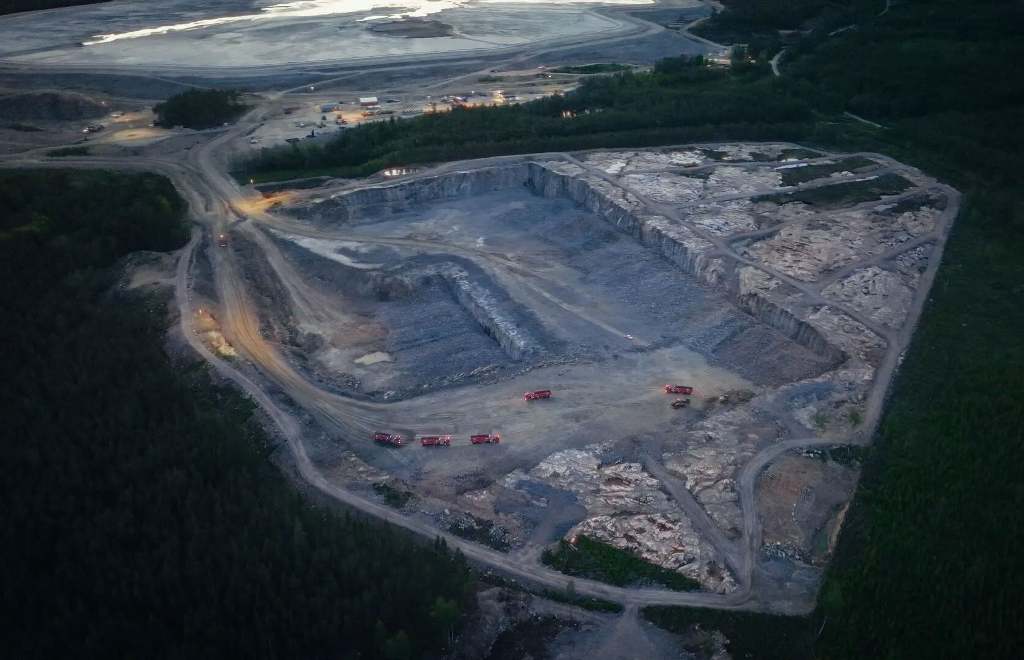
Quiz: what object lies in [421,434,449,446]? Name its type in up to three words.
vehicle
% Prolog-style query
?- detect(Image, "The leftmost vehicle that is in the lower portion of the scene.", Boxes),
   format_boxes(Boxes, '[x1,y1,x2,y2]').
[372,431,400,445]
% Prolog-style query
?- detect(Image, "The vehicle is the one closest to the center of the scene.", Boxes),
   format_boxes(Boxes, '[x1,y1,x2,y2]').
[526,389,551,401]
